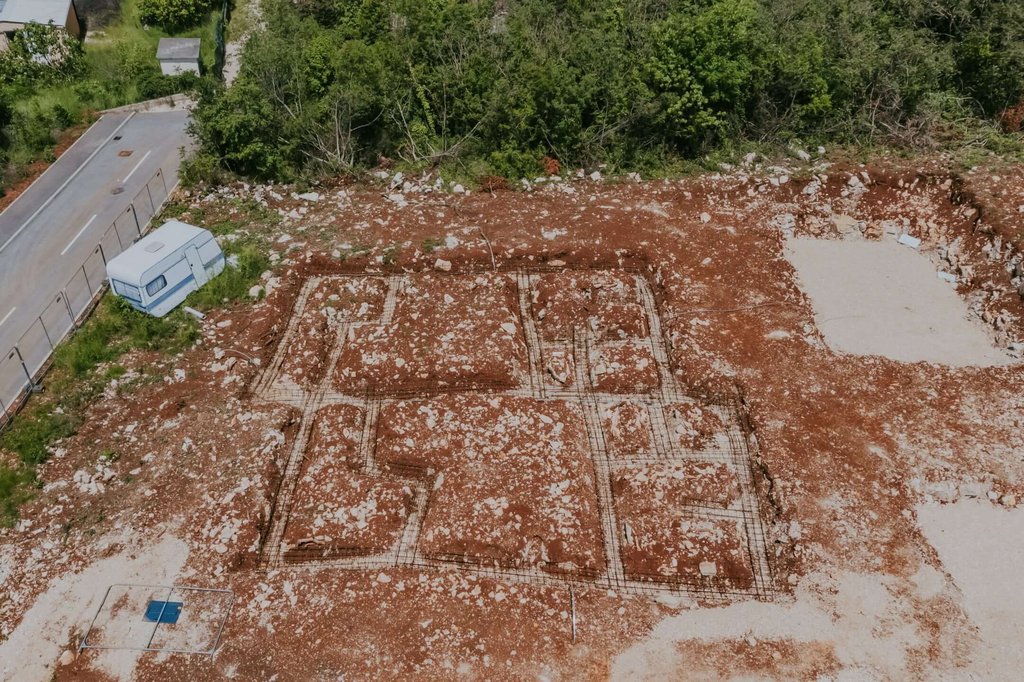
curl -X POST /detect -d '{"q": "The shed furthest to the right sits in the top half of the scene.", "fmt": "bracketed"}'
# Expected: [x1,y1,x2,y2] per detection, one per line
[155,35,210,83]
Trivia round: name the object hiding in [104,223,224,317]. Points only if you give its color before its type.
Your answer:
white camper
